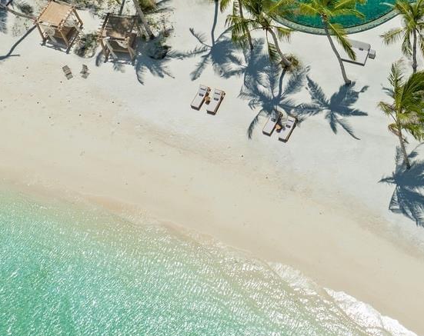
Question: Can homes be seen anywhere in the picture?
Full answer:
No, there's no home here.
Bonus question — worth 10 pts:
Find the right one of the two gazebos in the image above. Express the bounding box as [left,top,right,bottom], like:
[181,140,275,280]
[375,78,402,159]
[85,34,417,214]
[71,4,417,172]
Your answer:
[96,11,144,52]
